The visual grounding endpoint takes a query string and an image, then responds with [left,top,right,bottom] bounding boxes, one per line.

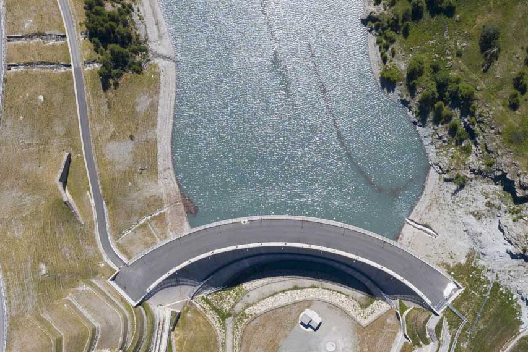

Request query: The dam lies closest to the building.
[107,208,465,316]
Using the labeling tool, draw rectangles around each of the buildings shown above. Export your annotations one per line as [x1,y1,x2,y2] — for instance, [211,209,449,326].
[299,309,321,331]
